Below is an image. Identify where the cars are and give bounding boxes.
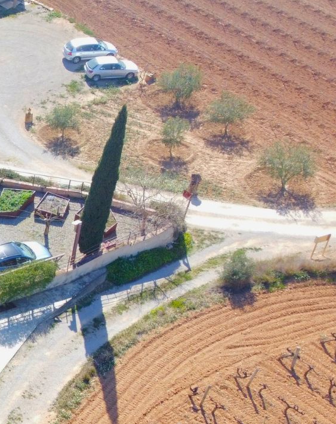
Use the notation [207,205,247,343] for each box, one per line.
[57,34,120,64]
[0,240,54,276]
[80,52,143,81]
